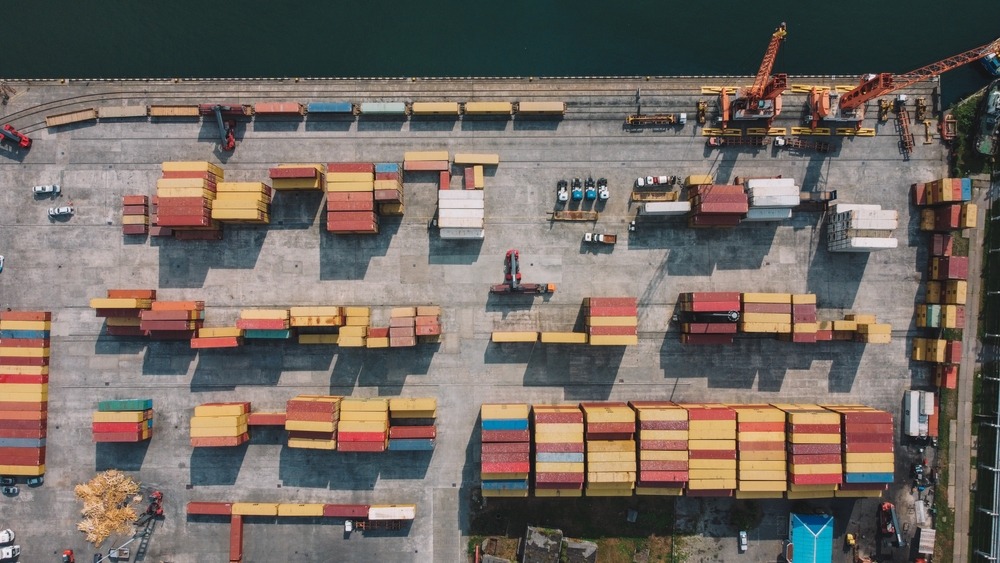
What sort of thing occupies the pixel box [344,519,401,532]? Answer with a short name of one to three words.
vehicle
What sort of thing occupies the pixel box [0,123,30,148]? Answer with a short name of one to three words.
work vehicle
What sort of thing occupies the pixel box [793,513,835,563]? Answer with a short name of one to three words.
building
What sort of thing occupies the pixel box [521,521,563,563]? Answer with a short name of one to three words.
house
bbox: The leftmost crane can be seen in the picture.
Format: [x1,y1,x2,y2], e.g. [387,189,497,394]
[699,29,789,136]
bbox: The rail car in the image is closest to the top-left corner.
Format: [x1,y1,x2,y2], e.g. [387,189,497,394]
[45,107,98,128]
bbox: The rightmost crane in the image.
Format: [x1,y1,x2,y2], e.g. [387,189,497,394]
[791,36,1000,136]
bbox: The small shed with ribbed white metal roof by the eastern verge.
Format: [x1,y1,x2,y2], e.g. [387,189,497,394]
[911,525,936,554]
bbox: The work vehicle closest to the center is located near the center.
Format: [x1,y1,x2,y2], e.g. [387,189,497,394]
[506,249,521,290]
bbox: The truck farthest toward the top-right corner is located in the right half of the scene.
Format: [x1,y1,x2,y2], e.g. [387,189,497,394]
[896,95,920,158]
